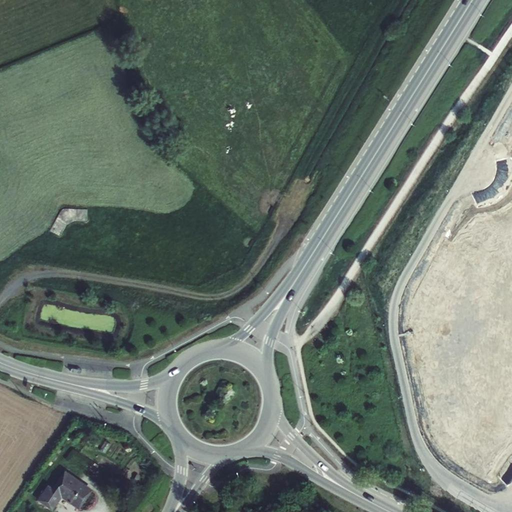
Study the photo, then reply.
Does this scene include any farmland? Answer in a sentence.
Yes, some farmland is visible.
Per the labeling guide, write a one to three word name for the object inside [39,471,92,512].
house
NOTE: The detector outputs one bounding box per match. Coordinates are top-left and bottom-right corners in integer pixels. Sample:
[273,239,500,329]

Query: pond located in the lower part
[34,299,123,338]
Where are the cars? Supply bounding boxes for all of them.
[168,368,180,376]
[132,404,146,412]
[286,289,296,302]
[362,491,374,502]
[70,368,82,374]
[318,461,329,471]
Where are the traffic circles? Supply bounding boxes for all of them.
[157,340,282,465]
